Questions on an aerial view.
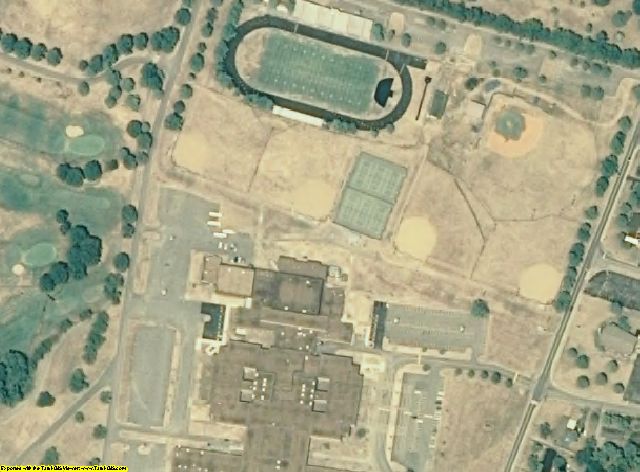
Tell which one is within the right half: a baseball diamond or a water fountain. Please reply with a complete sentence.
What appears within the right half is a baseball diamond.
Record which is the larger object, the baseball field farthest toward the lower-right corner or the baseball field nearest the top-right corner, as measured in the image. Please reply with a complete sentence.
The baseball field nearest the top-right corner covers a greater area than the baseball field farthest toward the lower-right corner.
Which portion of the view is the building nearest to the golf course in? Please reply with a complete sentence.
The building nearest to the golf course is located in the bottom region of the scene.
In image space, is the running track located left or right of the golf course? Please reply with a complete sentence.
Relative to the golf course, the running track is on the right.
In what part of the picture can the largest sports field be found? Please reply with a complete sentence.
The largest sports field is located in the top region of the scene.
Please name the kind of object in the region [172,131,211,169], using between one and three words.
baseball field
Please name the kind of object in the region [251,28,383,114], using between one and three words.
sports field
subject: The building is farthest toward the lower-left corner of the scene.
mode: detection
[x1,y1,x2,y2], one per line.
[171,254,364,472]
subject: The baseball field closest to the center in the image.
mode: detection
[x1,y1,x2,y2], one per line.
[289,175,337,223]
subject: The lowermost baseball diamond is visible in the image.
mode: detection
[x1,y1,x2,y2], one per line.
[519,261,566,306]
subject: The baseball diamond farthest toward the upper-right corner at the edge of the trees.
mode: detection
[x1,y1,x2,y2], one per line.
[478,97,603,209]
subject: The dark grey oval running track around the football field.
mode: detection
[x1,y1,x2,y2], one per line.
[225,17,428,132]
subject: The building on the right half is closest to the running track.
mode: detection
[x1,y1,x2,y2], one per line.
[430,89,449,119]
